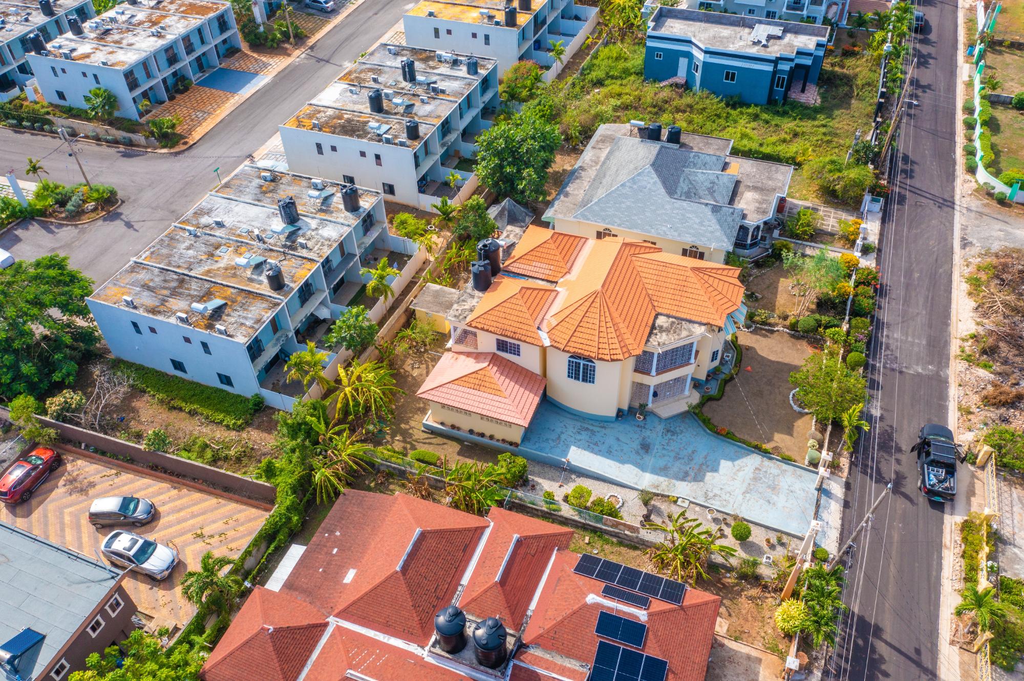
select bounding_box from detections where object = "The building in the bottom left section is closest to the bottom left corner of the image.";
[0,528,141,681]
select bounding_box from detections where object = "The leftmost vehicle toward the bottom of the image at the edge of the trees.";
[0,439,65,503]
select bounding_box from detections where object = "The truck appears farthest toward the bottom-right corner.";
[909,427,970,505]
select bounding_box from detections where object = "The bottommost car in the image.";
[96,523,179,580]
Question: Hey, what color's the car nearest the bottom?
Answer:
white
